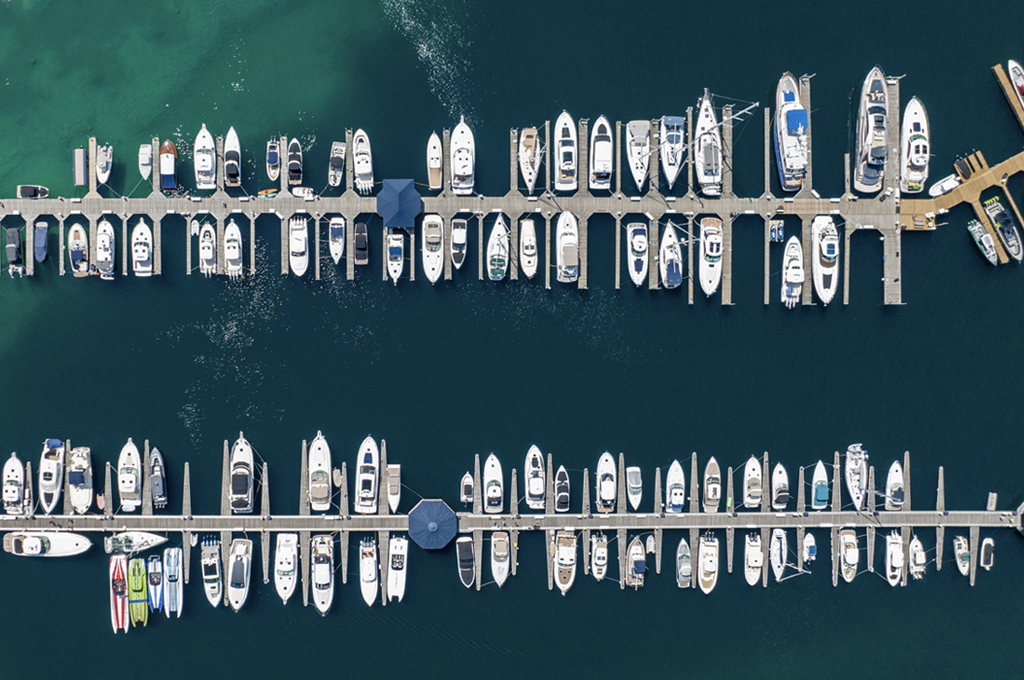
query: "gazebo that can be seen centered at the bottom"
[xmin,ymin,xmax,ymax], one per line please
[406,500,457,551]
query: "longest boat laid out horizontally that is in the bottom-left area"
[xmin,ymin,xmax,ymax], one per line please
[5,530,91,556]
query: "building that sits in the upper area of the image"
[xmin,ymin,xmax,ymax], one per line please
[374,178,424,229]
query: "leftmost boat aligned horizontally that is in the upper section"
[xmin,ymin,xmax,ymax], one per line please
[18,185,49,198]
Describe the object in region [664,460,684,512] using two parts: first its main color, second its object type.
white boat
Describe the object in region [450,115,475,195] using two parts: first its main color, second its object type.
white boat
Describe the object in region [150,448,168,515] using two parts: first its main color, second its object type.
gray boat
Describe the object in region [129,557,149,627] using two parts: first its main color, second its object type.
green boat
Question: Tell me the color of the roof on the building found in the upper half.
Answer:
blue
